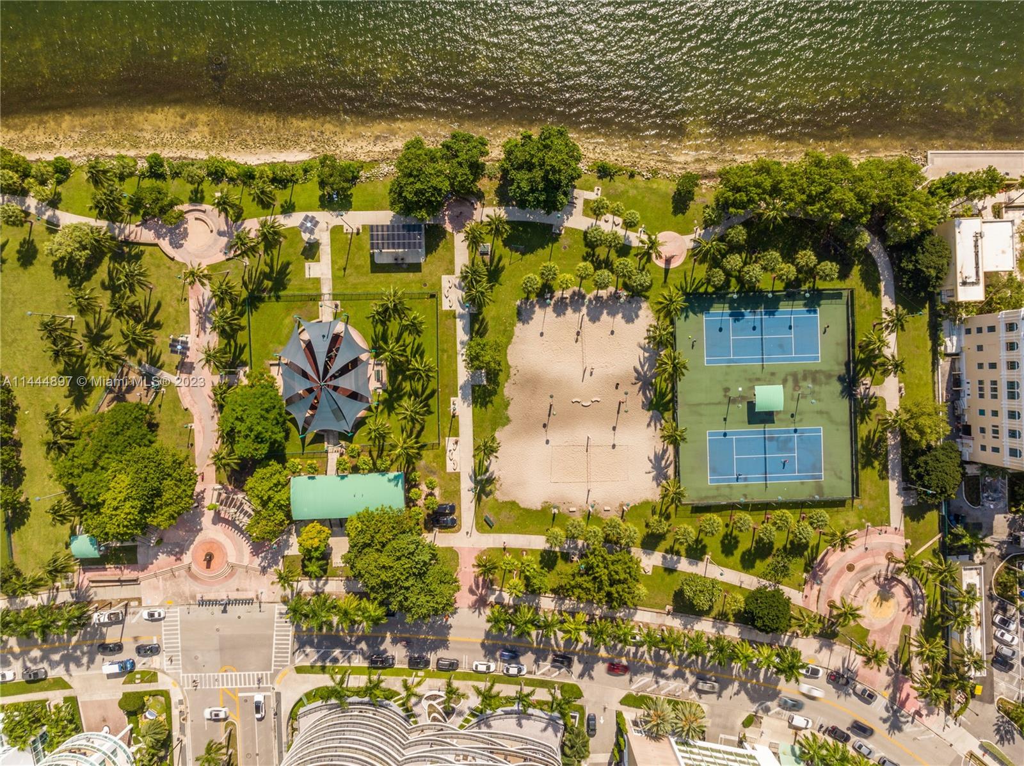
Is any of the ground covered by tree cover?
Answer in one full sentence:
Yes, tree cover can be seen from above here.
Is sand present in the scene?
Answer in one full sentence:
Yes, some sand is visible.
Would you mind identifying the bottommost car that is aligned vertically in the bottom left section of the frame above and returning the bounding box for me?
[251,695,263,720]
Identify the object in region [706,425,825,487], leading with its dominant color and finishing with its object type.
blue tennis court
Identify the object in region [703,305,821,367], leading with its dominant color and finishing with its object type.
blue tennis court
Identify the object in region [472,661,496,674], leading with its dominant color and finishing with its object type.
white vehicle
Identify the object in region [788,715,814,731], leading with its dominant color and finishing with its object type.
white car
